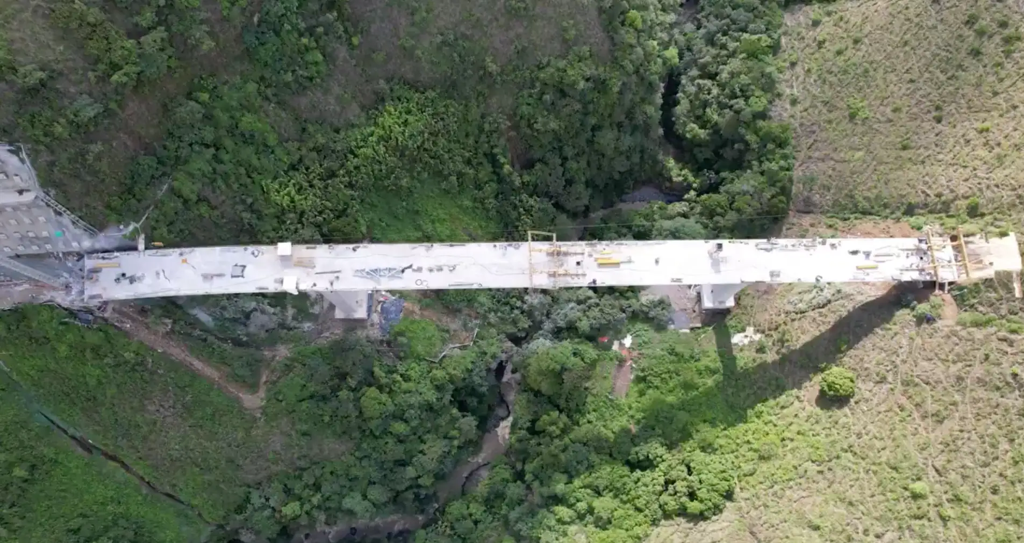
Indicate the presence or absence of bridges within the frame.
Yes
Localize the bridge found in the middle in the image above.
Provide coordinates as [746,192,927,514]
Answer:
[84,238,953,319]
